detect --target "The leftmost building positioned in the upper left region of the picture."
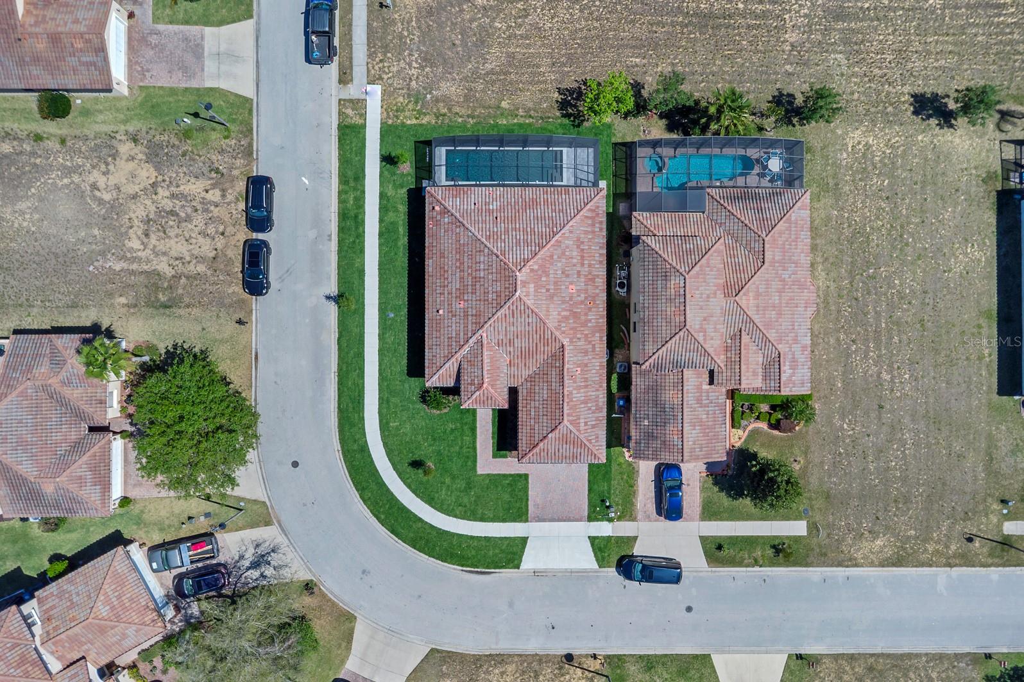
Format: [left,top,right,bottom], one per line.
[0,0,130,96]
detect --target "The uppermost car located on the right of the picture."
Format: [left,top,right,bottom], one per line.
[658,464,686,522]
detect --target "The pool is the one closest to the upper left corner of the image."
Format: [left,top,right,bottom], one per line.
[443,147,565,181]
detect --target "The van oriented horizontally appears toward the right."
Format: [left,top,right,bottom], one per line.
[621,555,684,587]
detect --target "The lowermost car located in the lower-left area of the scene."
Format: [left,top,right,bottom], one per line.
[173,563,232,598]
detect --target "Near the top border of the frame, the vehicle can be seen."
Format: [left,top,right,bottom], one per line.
[306,0,336,69]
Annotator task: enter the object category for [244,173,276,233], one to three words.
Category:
car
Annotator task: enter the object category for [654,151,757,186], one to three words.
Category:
swimming pool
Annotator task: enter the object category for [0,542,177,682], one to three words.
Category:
house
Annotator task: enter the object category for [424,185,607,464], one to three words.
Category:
house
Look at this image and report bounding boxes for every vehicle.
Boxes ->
[150,533,224,570]
[306,0,336,69]
[244,173,276,233]
[658,464,686,522]
[621,555,684,587]
[173,563,232,598]
[242,238,273,297]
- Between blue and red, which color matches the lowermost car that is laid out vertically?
blue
